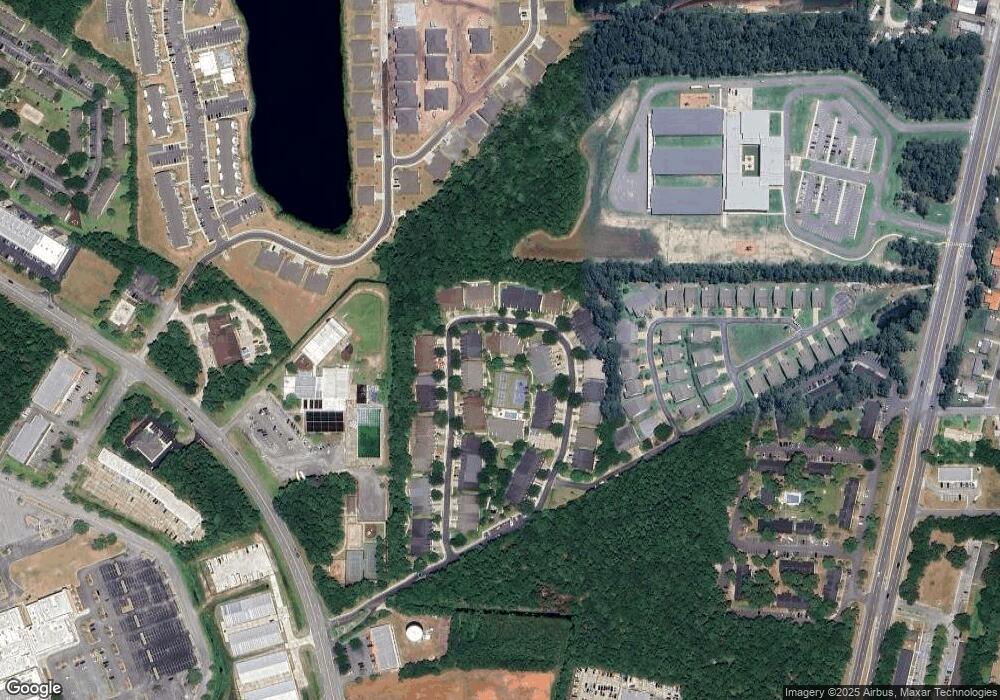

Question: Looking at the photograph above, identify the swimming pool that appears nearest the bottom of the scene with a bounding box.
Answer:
[784,492,802,505]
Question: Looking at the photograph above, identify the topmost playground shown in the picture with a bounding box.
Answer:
[680,93,710,108]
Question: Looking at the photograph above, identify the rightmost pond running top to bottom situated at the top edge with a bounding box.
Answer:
[233,0,353,230]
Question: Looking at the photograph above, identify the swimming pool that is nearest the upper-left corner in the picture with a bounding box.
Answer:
[218,49,232,69]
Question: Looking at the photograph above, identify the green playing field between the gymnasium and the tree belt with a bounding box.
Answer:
[343,292,383,351]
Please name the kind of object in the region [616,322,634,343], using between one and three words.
house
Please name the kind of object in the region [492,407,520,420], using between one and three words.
swimming pool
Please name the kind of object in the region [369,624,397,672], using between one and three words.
building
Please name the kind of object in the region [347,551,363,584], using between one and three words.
tennis court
